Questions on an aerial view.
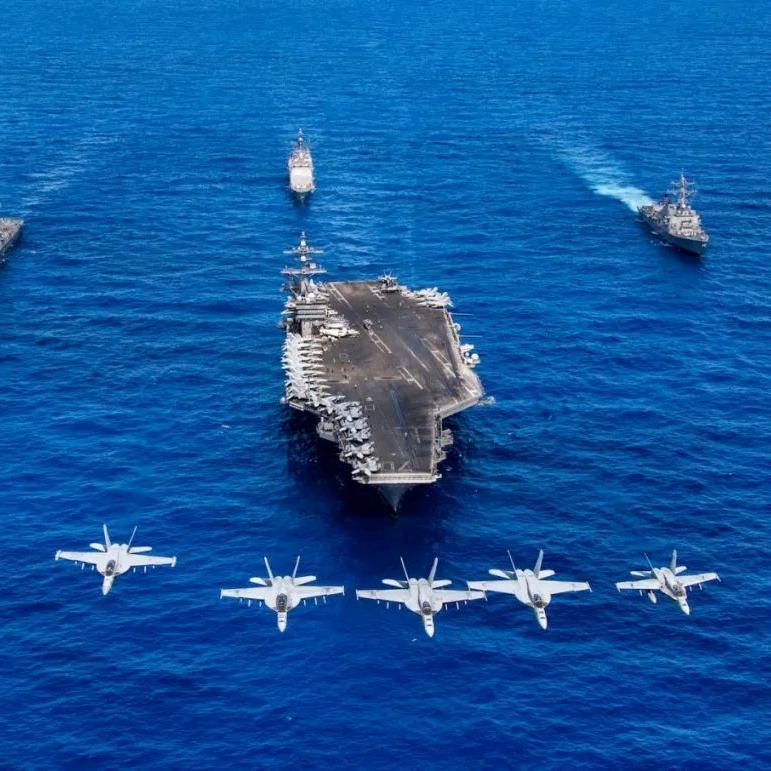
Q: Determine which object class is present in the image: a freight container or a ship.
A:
ship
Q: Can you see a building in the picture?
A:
No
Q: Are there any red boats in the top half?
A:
No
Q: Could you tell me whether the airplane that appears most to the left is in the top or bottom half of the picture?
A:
bottom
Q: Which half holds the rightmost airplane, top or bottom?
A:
bottom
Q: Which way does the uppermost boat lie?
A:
up and down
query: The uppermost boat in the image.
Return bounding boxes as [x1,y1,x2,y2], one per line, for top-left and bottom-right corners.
[285,131,316,207]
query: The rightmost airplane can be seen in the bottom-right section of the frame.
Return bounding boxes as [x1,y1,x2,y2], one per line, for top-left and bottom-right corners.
[615,547,721,616]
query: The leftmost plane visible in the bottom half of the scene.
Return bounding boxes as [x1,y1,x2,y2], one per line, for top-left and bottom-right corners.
[56,521,175,595]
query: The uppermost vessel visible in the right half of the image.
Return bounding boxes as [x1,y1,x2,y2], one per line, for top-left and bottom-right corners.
[644,166,710,258]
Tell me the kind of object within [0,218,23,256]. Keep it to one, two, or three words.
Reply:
ship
